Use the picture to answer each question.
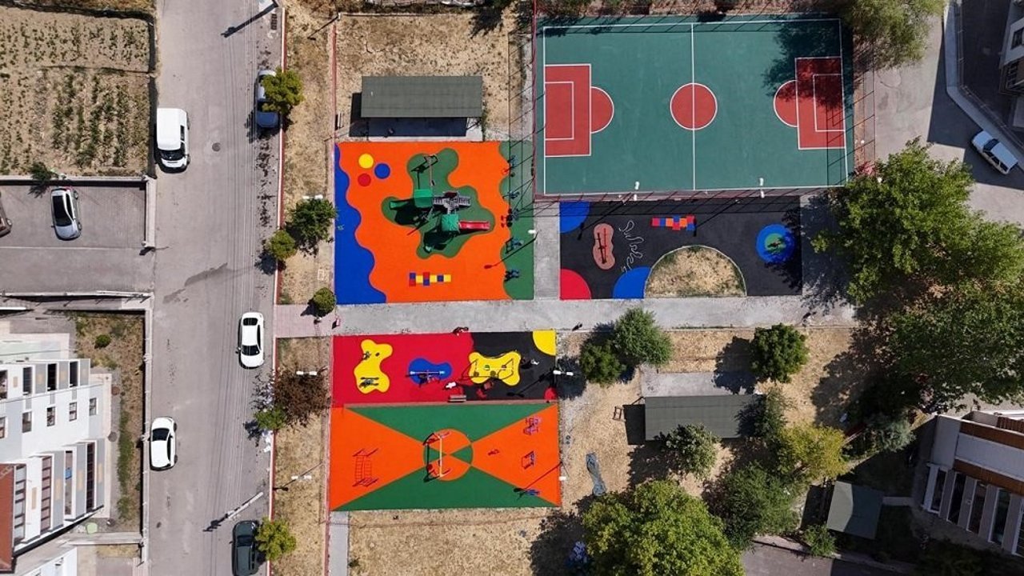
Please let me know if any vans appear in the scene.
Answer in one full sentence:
Yes, there's a van here.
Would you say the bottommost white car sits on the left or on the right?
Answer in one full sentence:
It is on the left.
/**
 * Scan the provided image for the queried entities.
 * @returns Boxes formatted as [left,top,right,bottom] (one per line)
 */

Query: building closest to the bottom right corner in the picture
[918,413,1024,558]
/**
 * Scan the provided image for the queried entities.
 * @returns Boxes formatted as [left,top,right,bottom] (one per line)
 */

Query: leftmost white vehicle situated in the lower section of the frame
[149,415,179,466]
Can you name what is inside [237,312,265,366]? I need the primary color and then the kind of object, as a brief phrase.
white car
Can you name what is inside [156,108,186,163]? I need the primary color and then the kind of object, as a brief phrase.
white van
